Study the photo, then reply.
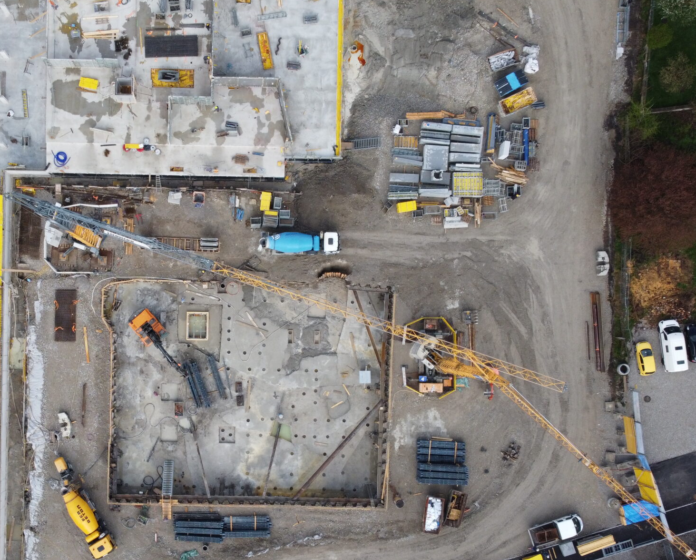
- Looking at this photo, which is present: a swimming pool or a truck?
truck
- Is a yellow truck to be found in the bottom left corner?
Yes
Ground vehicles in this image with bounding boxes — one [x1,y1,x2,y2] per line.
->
[126,306,195,382]
[58,484,120,560]
[682,323,696,362]
[656,321,689,373]
[634,342,656,377]
[527,517,585,549]
[255,229,341,256]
